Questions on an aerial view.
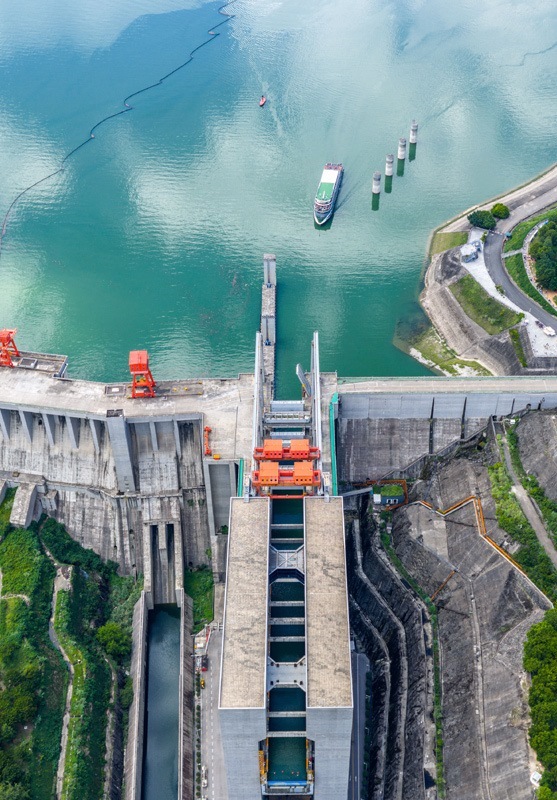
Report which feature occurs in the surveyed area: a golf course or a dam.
dam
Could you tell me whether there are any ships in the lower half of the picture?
No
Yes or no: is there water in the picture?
Yes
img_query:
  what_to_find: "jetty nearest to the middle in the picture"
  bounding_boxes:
[261,350,277,402]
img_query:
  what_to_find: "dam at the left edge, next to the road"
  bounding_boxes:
[0,349,210,611]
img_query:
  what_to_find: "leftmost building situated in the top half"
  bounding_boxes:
[458,239,484,263]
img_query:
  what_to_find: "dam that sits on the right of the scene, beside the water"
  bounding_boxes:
[337,375,557,552]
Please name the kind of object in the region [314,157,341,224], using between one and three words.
ship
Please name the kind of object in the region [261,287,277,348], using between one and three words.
pier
